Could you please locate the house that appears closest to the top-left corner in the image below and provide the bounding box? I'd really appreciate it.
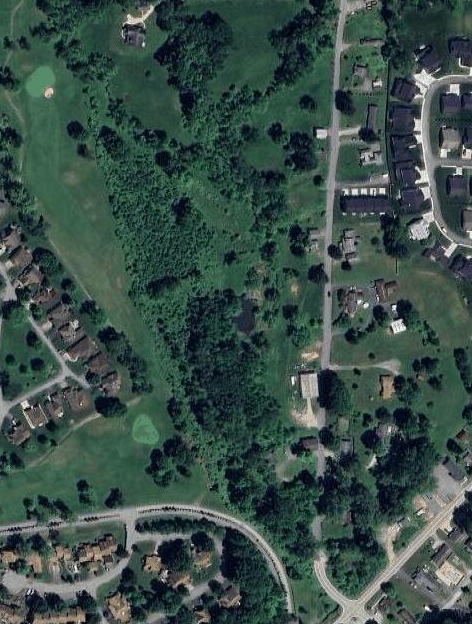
[120,23,145,47]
